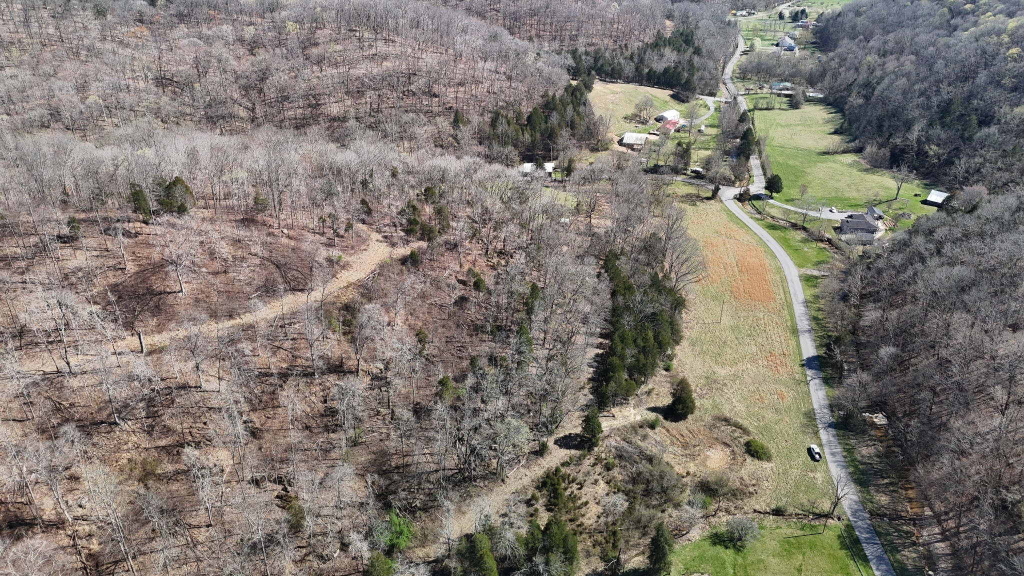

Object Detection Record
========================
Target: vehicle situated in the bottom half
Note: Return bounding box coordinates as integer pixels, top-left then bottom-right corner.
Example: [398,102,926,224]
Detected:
[809,443,824,461]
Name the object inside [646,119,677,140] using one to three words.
barn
